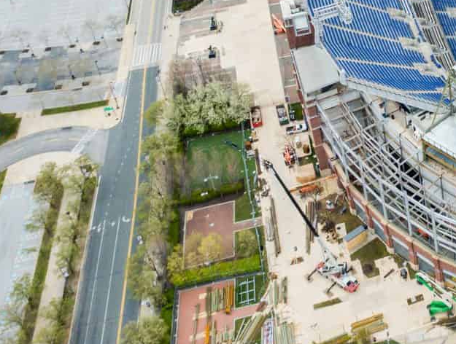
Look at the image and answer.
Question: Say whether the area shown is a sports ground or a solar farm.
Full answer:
It's a sports ground.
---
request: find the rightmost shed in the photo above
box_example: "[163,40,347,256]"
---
[331,219,376,251]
